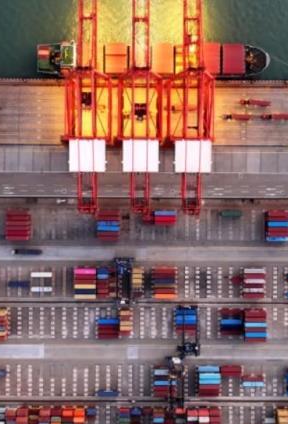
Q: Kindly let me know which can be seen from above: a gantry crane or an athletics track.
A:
gantry crane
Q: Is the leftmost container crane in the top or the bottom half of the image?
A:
top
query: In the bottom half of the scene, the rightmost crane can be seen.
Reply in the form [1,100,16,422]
[176,301,199,361]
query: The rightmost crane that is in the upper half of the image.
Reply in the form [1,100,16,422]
[164,0,214,213]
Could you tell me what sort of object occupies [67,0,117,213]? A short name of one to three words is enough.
container crane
